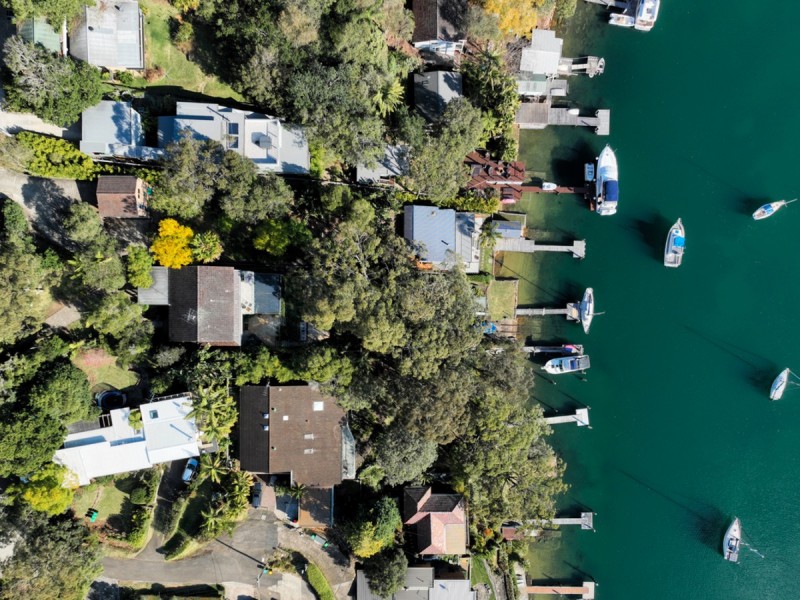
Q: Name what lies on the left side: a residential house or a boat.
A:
residential house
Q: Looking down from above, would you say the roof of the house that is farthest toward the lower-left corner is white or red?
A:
white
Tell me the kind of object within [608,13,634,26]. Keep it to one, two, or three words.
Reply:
boat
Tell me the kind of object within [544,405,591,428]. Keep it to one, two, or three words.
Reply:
pier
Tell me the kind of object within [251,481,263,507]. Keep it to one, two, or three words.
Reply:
vehicle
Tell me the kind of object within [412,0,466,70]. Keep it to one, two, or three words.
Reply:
house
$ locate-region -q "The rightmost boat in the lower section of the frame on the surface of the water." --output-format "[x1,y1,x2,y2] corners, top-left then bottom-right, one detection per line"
[767,370,800,401]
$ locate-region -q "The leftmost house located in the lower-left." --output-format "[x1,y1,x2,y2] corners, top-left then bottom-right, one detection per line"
[53,389,209,487]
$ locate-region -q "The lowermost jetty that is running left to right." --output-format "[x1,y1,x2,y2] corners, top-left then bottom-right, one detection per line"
[526,577,598,600]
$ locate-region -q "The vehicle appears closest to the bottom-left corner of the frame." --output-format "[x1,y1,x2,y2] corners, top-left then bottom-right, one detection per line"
[183,458,199,482]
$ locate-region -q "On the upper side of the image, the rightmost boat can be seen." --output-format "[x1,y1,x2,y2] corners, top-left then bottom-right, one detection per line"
[749,202,798,220]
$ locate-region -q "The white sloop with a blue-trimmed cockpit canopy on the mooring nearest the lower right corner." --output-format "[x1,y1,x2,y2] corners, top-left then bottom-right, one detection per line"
[722,518,762,562]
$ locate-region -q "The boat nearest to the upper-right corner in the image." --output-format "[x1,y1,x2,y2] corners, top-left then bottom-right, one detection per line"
[634,0,663,35]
